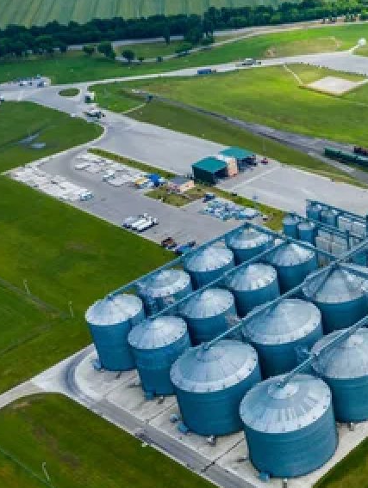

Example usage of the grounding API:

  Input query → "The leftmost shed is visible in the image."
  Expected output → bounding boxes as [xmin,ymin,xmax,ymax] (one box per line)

[165,181,198,201]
